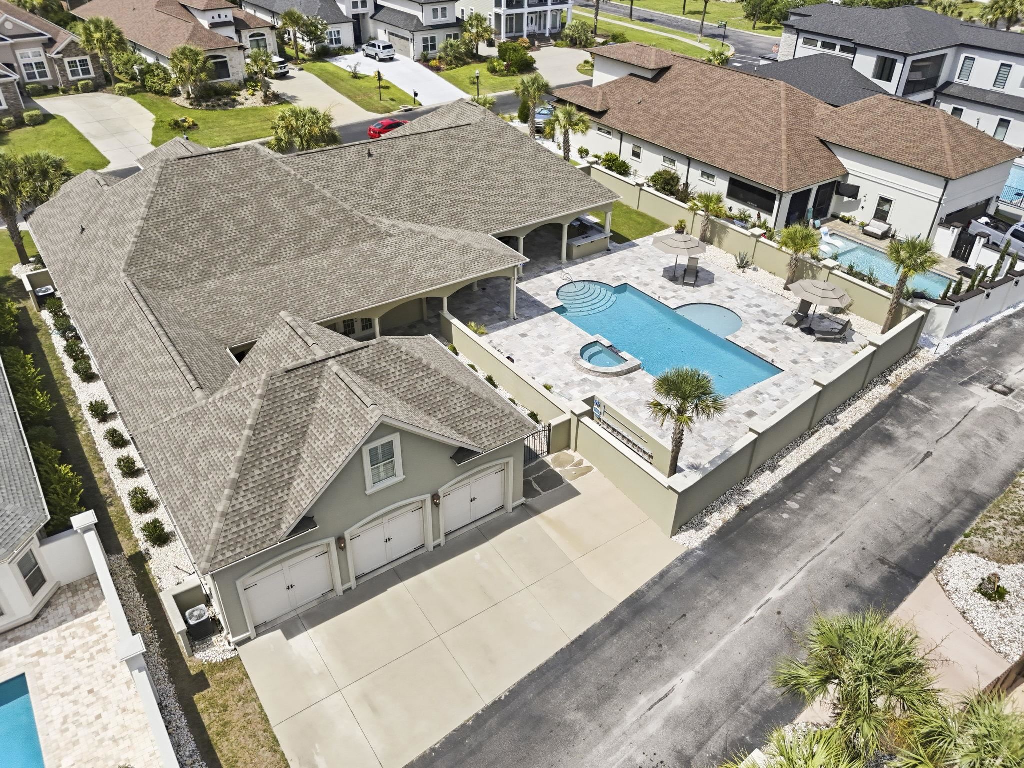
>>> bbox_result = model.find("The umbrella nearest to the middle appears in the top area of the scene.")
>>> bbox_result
[652,232,706,280]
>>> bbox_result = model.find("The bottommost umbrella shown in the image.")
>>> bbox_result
[786,278,850,331]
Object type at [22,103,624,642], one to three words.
house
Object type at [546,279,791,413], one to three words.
swimming pool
